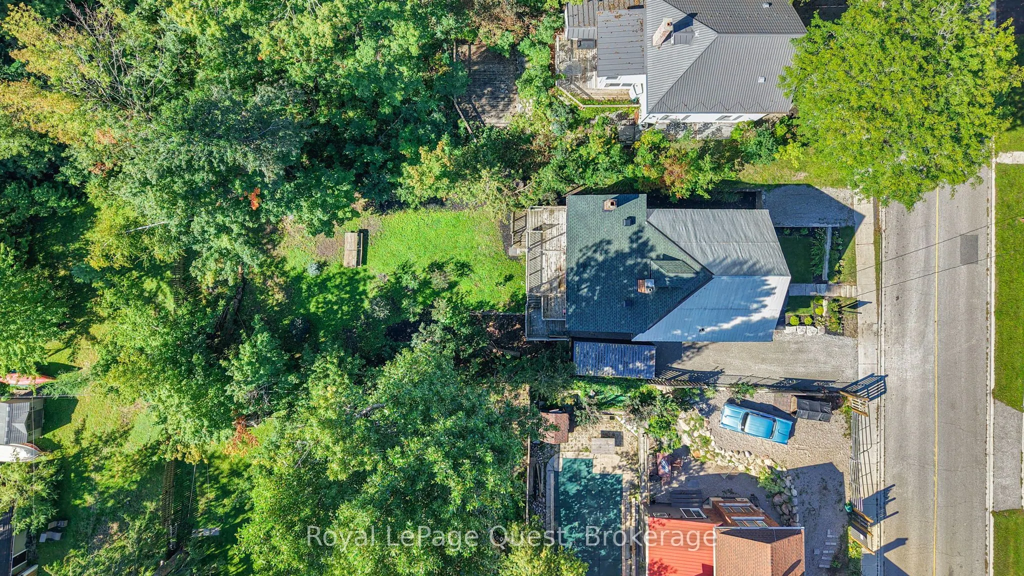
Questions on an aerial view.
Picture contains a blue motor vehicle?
Yes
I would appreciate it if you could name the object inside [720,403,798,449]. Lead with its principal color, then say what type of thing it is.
blue car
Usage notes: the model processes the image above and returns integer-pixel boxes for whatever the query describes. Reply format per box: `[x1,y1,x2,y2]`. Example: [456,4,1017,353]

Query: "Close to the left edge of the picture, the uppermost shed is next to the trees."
[0,399,44,444]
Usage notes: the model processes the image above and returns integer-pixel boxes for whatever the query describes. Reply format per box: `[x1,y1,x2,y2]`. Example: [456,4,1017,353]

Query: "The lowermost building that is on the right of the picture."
[644,491,806,576]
